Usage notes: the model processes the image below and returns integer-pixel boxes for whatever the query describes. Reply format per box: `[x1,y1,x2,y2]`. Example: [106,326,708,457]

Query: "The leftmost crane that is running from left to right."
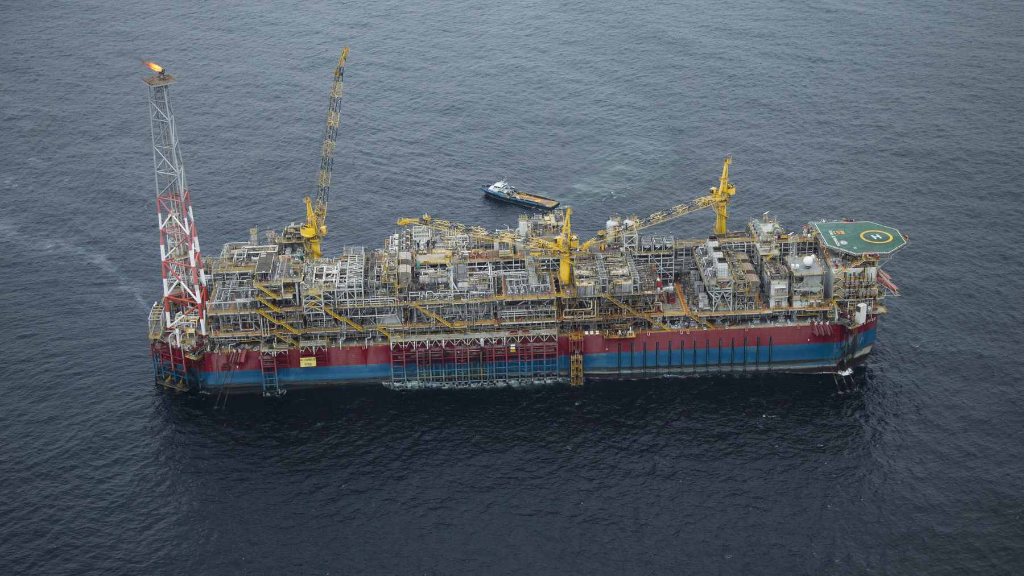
[393,203,581,289]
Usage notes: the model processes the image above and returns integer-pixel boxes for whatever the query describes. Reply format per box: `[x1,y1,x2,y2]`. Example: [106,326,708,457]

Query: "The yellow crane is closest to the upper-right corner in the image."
[581,153,738,248]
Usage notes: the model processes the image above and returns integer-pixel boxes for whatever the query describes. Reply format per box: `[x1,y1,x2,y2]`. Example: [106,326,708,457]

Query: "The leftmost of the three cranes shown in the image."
[297,44,347,260]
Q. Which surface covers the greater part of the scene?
water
